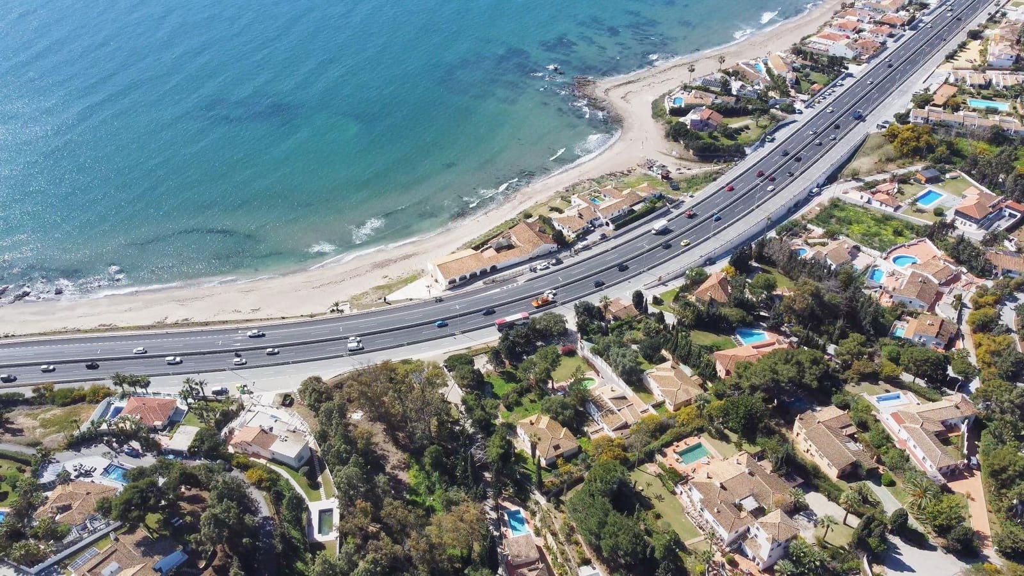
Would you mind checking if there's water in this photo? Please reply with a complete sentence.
Yes, there's water in this view.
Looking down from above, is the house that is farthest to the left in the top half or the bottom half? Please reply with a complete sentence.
The bottom half of the photo is where the house that is farthest to the left is.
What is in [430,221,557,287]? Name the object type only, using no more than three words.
building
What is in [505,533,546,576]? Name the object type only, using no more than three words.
house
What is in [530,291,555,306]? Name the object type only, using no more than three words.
vehicle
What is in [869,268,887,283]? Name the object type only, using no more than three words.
swimming pool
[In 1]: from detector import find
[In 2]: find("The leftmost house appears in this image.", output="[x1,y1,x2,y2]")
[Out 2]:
[33,481,118,534]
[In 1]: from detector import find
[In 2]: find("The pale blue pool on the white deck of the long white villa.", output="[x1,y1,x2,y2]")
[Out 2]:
[872,389,905,405]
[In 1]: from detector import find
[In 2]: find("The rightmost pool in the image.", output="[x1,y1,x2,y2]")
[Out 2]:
[967,98,1011,110]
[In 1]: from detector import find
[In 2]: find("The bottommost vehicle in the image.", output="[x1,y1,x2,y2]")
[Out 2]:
[794,508,815,523]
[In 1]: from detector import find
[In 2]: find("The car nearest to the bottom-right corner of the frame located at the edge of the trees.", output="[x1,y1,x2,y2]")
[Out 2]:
[965,453,983,468]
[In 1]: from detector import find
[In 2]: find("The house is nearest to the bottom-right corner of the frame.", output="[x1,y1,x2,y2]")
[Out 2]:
[895,394,978,479]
